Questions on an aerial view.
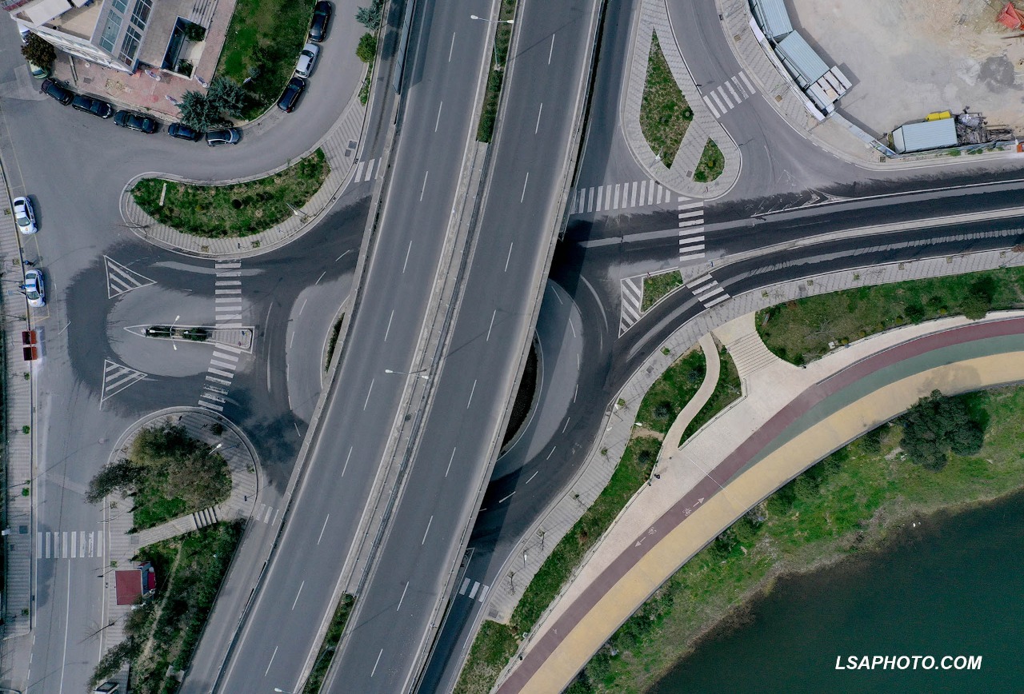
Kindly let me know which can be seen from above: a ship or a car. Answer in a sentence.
I can see a car in this picture.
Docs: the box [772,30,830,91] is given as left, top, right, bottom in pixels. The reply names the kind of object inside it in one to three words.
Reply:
building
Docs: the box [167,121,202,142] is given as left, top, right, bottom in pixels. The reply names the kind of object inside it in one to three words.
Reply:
car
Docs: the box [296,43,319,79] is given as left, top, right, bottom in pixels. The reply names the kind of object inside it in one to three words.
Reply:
car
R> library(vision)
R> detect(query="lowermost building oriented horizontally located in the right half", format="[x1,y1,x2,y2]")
[883,118,958,158]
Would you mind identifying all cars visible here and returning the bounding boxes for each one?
[296,43,319,79]
[14,196,39,236]
[278,76,305,114]
[167,121,202,142]
[25,270,48,308]
[40,79,75,106]
[72,93,115,119]
[207,127,243,146]
[309,1,333,42]
[28,58,52,84]
[115,110,158,135]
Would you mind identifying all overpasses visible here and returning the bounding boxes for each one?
[210,0,604,694]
